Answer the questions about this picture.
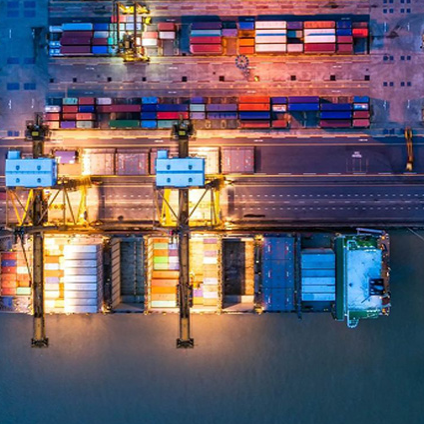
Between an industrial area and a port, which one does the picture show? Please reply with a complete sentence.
What you see here is a port.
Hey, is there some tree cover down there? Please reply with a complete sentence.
No, there is no tree cover in the image.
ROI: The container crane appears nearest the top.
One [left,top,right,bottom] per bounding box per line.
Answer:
[112,2,155,64]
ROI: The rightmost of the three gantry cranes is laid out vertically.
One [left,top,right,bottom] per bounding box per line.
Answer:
[146,112,239,347]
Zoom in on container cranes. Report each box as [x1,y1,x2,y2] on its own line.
[146,112,239,347]
[4,114,102,348]
[112,2,155,64]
